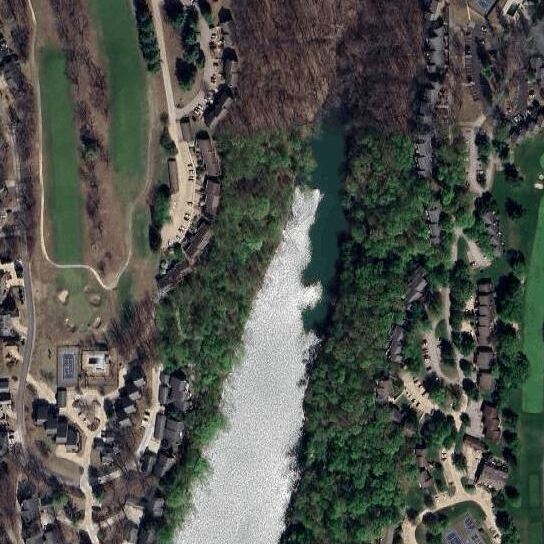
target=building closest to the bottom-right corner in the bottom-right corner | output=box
[476,459,513,489]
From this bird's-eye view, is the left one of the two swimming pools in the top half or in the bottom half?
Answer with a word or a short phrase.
bottom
